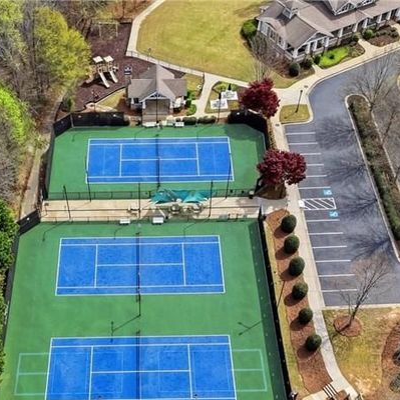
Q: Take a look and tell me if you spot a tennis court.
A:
Yes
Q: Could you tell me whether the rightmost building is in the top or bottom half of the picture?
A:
top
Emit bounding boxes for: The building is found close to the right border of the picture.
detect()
[247,0,400,63]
